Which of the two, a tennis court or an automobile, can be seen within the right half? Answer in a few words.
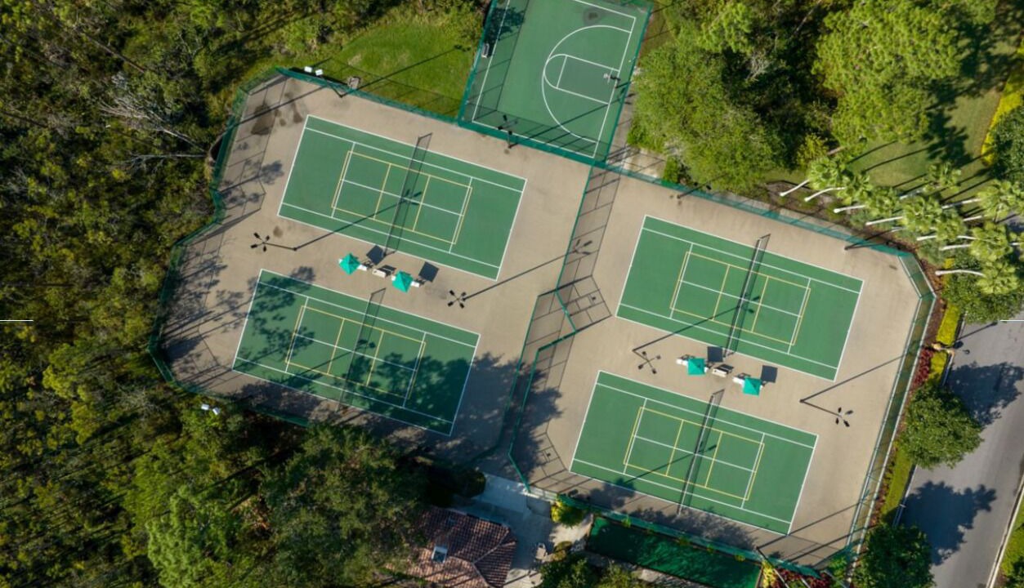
tennis court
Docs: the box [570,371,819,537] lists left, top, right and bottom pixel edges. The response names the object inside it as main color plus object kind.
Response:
green tennis court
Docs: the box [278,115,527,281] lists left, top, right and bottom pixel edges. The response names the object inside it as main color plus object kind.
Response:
green tennis court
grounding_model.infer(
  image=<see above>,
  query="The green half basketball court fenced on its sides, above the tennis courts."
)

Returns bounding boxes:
[459,0,652,163]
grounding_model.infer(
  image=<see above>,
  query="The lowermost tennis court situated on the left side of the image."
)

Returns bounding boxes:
[231,270,480,436]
